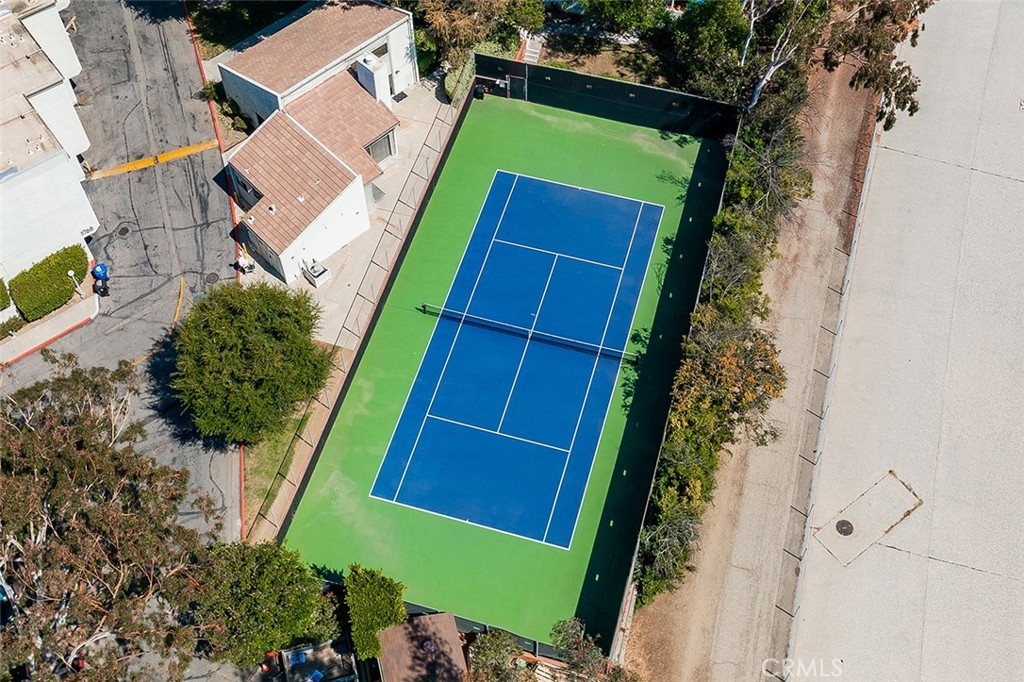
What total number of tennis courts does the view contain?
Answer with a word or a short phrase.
1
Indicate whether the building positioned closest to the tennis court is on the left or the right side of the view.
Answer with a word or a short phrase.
left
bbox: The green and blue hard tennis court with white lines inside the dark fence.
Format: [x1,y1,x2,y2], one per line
[275,94,735,659]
